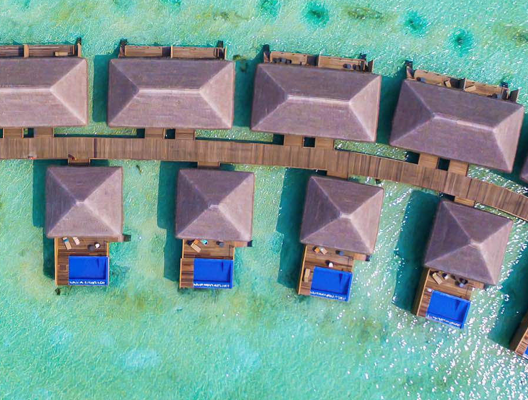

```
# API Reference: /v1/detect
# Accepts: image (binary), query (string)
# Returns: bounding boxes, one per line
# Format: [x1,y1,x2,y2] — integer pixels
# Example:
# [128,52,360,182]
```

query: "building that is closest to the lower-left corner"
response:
[47,167,133,288]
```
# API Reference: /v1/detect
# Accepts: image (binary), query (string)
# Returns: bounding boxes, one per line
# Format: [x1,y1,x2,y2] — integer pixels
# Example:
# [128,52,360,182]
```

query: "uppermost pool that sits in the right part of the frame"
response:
[310,266,352,301]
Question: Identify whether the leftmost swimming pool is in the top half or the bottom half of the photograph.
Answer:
bottom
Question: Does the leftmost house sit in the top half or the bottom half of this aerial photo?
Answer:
top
